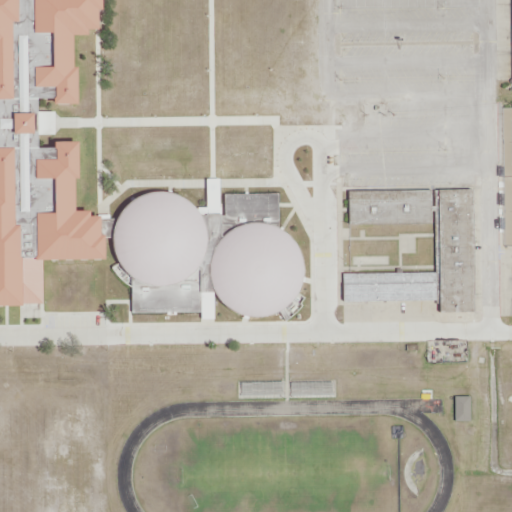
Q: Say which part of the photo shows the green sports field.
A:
bottom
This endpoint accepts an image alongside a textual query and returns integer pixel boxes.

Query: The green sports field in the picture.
[181,425,388,512]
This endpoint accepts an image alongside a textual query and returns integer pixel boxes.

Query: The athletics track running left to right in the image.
[118,400,453,512]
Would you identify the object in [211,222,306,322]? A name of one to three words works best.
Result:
building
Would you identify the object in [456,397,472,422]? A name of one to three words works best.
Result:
shed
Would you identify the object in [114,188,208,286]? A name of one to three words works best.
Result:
building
